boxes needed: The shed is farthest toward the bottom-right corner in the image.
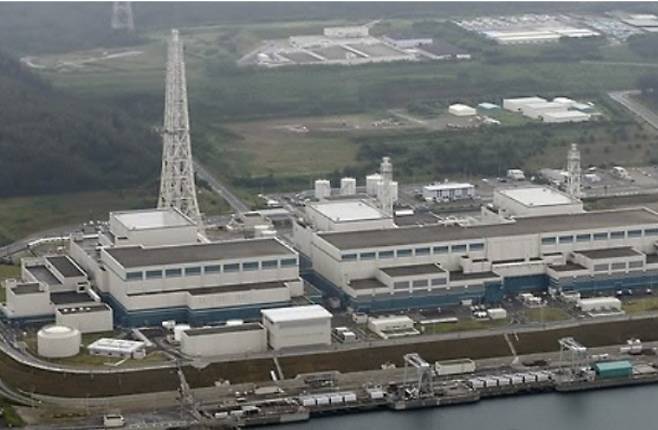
[587,357,636,380]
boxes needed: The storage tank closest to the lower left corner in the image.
[37,324,82,359]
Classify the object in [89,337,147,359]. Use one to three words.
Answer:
building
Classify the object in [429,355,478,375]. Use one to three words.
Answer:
house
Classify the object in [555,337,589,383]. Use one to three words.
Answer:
container crane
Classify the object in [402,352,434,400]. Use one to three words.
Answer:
container crane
